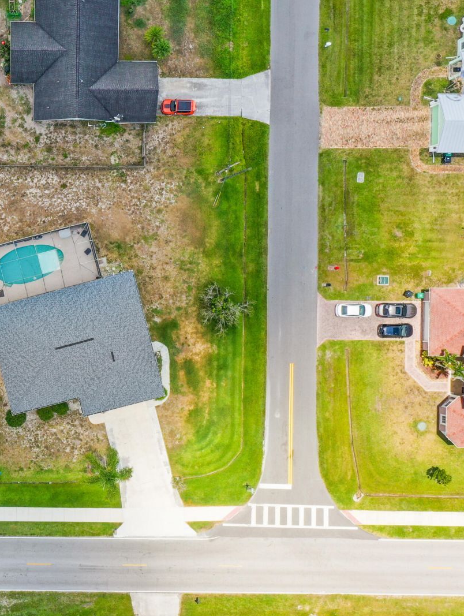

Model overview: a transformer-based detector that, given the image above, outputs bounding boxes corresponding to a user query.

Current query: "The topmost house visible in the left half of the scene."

[11,0,160,123]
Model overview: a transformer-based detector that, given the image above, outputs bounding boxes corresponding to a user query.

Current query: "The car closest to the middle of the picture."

[333,302,371,319]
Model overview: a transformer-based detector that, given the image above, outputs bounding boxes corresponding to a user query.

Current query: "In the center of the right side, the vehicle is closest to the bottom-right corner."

[375,323,412,340]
